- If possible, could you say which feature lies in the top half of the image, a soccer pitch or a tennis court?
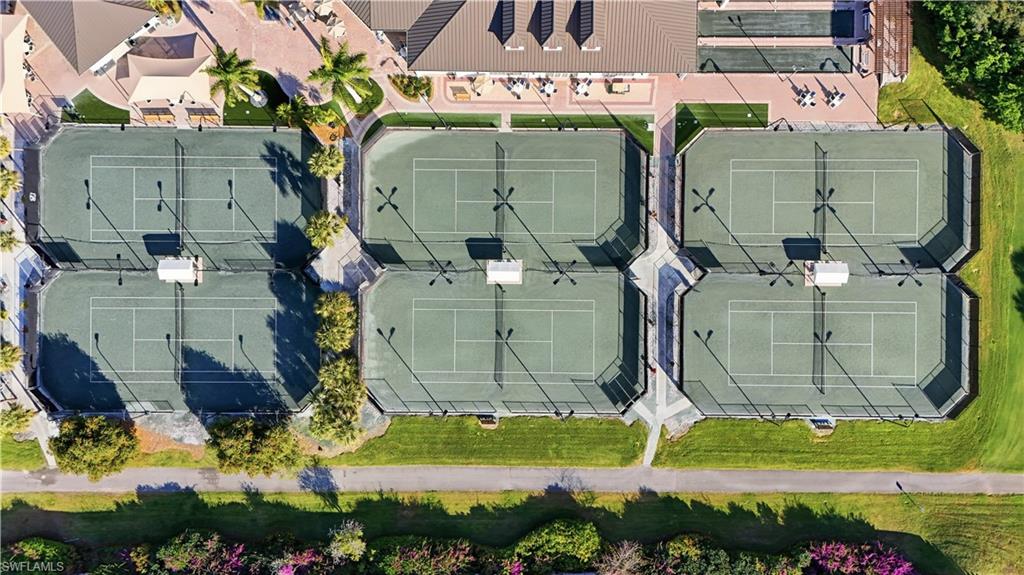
tennis court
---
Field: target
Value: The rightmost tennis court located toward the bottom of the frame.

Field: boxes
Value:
[680,272,969,418]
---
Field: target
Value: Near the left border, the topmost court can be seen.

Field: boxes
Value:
[38,124,322,270]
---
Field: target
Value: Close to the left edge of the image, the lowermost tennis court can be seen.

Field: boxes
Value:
[38,269,322,413]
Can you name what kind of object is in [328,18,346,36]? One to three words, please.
umbrella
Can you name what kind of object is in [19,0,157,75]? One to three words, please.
building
